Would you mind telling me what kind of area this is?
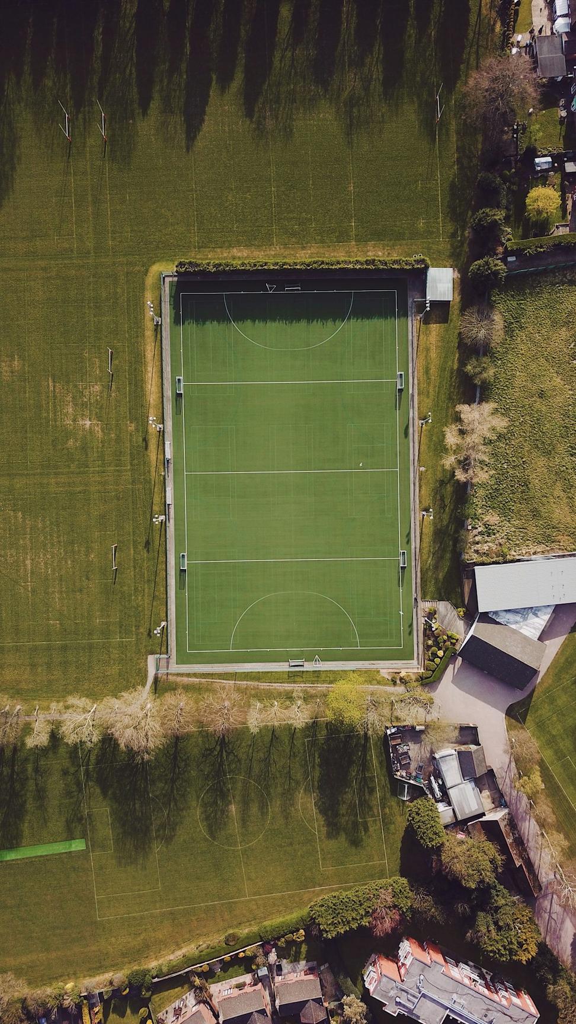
sports ground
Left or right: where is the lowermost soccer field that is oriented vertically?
right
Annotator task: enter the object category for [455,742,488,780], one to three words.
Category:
shed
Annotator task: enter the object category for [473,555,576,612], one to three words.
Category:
building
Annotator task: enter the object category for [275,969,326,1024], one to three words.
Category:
house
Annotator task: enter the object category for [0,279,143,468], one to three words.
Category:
sports field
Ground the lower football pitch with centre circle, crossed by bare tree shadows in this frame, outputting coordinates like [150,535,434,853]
[76,714,390,922]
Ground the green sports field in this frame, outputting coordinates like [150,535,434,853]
[163,272,427,674]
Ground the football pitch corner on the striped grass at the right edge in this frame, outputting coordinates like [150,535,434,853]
[517,677,576,813]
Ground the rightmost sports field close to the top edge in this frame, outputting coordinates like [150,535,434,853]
[90,0,460,256]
